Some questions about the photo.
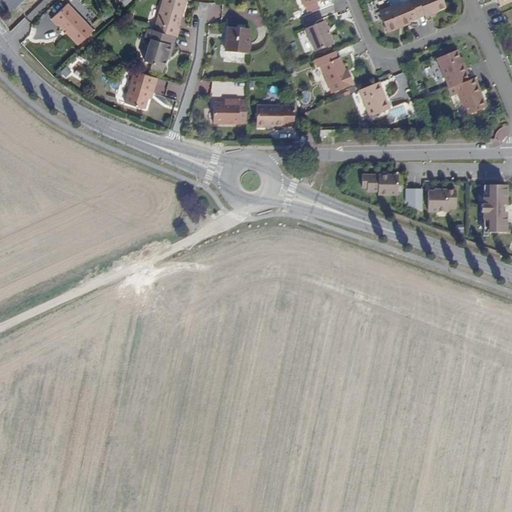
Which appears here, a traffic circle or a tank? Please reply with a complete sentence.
It is a traffic circle that can be seen here.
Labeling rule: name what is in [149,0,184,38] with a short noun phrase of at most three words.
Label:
house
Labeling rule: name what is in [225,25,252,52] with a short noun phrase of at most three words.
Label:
house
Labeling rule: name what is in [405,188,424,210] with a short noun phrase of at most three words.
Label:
shed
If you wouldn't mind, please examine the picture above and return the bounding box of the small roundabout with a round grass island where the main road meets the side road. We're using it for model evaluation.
[220,150,282,210]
